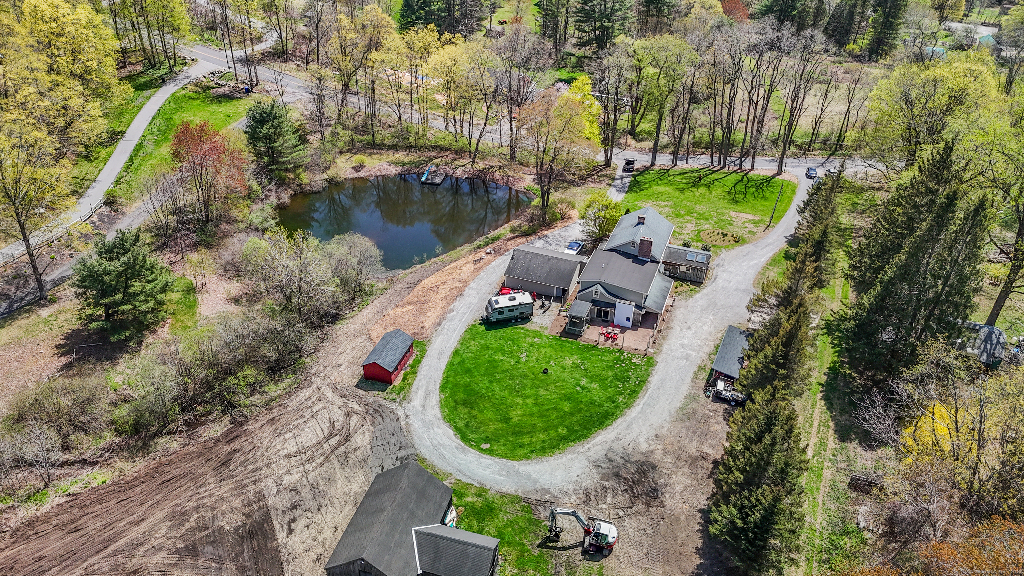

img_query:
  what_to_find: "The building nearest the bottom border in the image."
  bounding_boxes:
[325,461,501,576]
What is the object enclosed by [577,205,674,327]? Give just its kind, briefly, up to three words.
house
